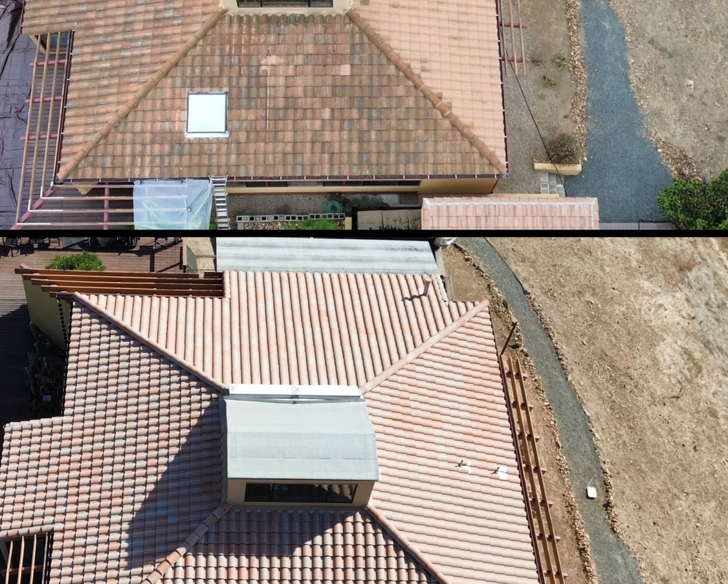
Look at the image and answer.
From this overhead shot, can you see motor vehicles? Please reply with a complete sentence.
No, there is no motor vehicle in the image.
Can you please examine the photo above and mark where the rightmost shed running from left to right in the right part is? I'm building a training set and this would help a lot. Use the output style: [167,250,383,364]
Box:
[421,193,603,228]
